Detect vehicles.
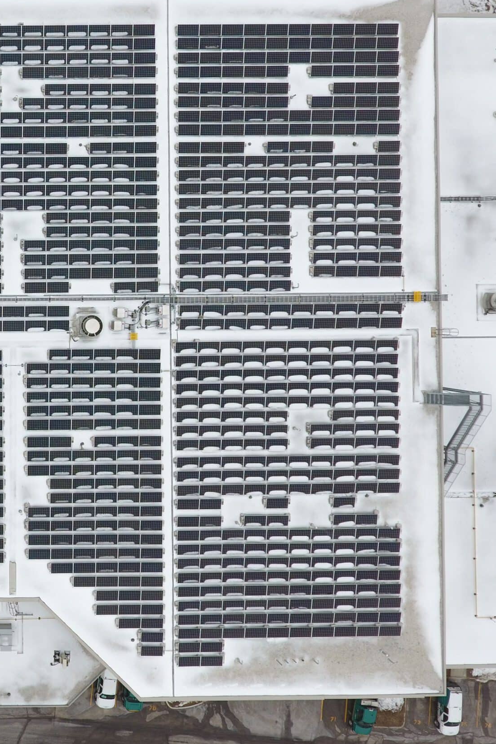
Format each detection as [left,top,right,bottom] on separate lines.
[349,697,377,735]
[435,673,466,736]
[122,687,144,711]
[97,669,120,709]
